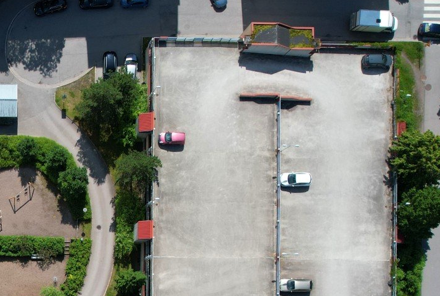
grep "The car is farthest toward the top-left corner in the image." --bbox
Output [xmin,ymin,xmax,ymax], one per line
[33,0,68,16]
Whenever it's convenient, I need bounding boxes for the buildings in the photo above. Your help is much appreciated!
[128,23,405,296]
[0,85,17,121]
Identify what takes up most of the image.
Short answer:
buildings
